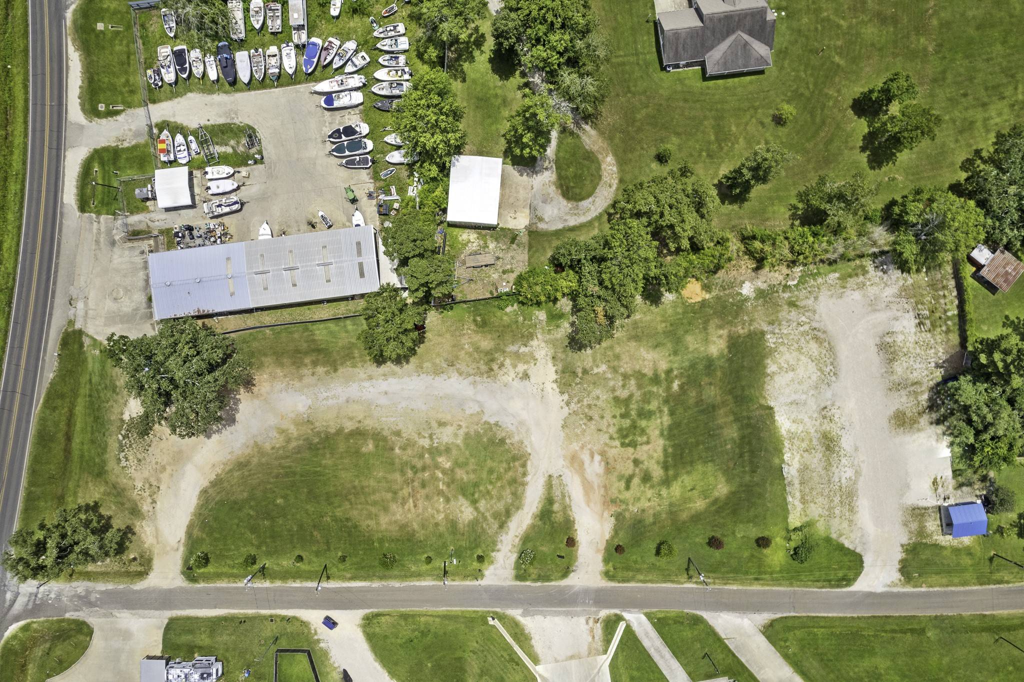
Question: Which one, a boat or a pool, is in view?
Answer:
boat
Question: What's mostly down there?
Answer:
grass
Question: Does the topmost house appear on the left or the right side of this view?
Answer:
right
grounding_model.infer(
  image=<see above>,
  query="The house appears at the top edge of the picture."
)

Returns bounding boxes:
[657,0,776,78]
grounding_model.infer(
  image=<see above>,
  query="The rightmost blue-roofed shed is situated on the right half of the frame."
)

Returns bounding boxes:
[943,502,987,538]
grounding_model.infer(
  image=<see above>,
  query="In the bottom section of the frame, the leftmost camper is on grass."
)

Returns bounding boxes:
[166,658,226,682]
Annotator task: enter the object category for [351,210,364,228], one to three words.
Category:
boat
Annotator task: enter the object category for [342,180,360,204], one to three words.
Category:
work vehicle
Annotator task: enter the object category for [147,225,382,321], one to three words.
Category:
building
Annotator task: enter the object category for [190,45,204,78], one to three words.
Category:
boat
